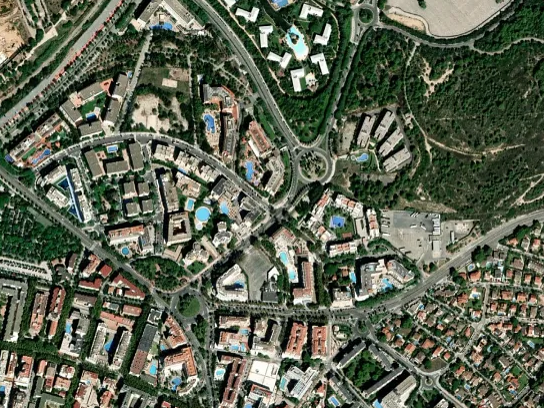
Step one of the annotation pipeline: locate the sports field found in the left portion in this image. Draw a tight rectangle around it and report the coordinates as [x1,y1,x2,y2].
[141,69,189,86]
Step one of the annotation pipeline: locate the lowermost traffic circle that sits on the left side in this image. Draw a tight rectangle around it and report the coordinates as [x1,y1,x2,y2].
[171,285,208,321]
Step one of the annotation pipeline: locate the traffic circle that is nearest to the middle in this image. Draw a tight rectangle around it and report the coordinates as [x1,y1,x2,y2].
[293,145,336,187]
